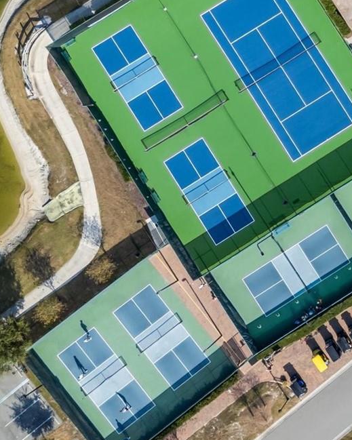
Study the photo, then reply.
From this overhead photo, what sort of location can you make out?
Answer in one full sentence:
The picture captures a sports ground.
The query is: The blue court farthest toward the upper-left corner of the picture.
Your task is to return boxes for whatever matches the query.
[91,24,182,130]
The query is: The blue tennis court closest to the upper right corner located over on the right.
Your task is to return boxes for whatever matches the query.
[200,0,352,161]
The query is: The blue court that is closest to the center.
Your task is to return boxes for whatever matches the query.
[163,138,253,245]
